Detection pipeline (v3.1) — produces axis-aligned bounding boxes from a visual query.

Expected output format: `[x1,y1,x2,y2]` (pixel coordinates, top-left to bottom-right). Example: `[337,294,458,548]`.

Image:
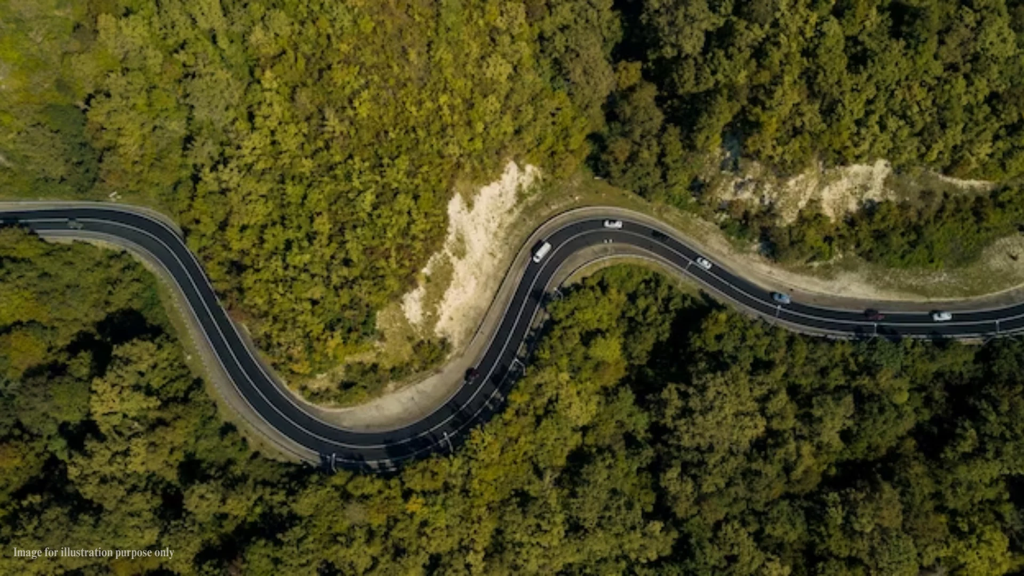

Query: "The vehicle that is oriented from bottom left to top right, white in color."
[533,242,552,265]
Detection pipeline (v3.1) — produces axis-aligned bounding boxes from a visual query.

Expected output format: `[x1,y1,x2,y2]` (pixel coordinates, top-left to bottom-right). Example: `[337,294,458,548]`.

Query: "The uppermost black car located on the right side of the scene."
[653,230,672,243]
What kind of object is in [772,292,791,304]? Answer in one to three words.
vehicle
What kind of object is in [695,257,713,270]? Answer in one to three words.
vehicle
